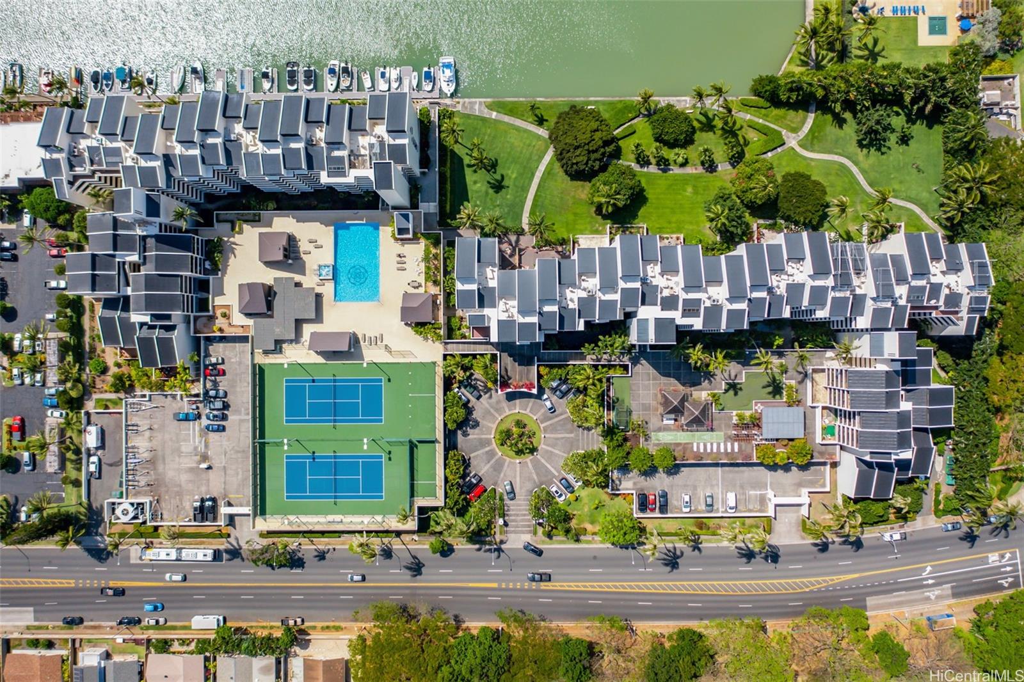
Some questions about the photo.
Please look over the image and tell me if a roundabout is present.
Yes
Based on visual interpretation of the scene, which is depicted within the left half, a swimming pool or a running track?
swimming pool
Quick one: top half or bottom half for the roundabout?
bottom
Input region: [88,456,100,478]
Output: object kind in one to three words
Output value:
vehicle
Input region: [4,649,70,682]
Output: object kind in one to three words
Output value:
house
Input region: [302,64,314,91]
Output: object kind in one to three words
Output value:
boat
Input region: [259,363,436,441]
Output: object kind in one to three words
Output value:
tennis court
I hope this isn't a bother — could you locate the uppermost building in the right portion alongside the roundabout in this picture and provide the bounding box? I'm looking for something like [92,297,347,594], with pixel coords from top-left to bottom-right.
[455,231,995,358]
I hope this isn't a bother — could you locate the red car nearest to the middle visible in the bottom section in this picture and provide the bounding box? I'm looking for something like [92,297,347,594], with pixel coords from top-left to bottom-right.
[471,484,486,500]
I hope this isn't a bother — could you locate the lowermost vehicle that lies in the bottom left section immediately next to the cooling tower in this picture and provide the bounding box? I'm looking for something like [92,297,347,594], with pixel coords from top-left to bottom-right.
[137,548,219,563]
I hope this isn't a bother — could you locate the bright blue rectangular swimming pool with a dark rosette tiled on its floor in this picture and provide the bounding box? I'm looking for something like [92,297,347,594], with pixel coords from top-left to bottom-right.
[334,221,381,305]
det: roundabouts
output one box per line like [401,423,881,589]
[449,377,599,536]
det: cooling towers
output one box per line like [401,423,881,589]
[105,497,159,523]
